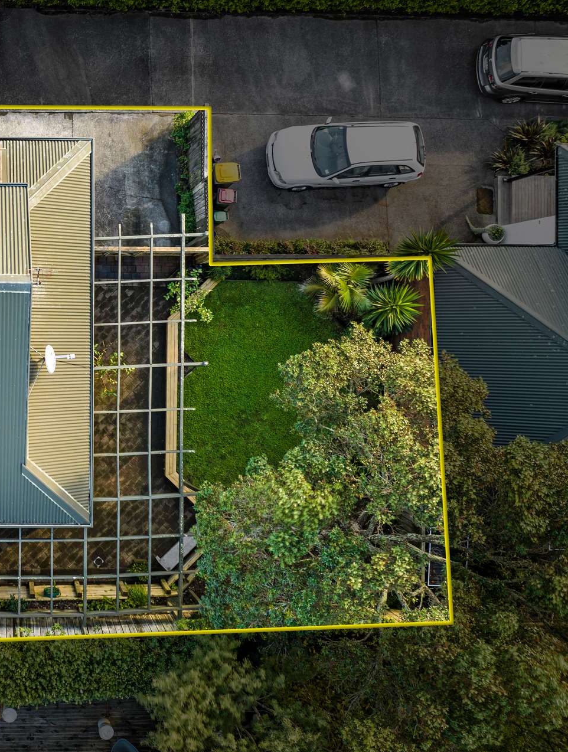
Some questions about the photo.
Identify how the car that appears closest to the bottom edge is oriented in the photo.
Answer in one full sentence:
The car that appears closest to the bottom edge is laid out horizontally.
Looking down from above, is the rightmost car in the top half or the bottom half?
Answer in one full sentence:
It is in the top half that the rightmost car appears.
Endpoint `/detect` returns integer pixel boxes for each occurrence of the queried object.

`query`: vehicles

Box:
[264,113,428,192]
[475,30,568,105]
